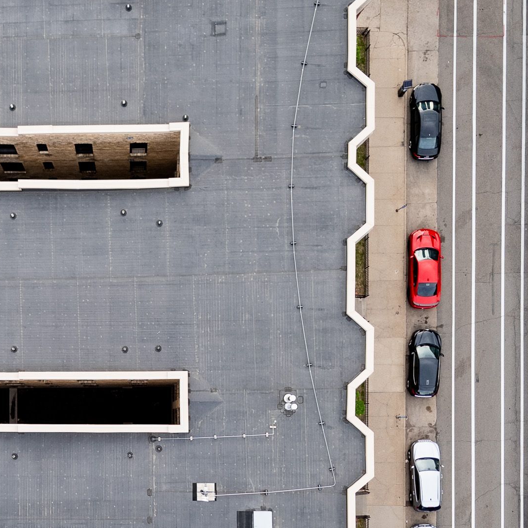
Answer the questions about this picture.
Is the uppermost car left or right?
right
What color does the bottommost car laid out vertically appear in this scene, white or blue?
white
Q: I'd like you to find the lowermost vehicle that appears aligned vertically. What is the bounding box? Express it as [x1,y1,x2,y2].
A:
[408,437,446,513]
